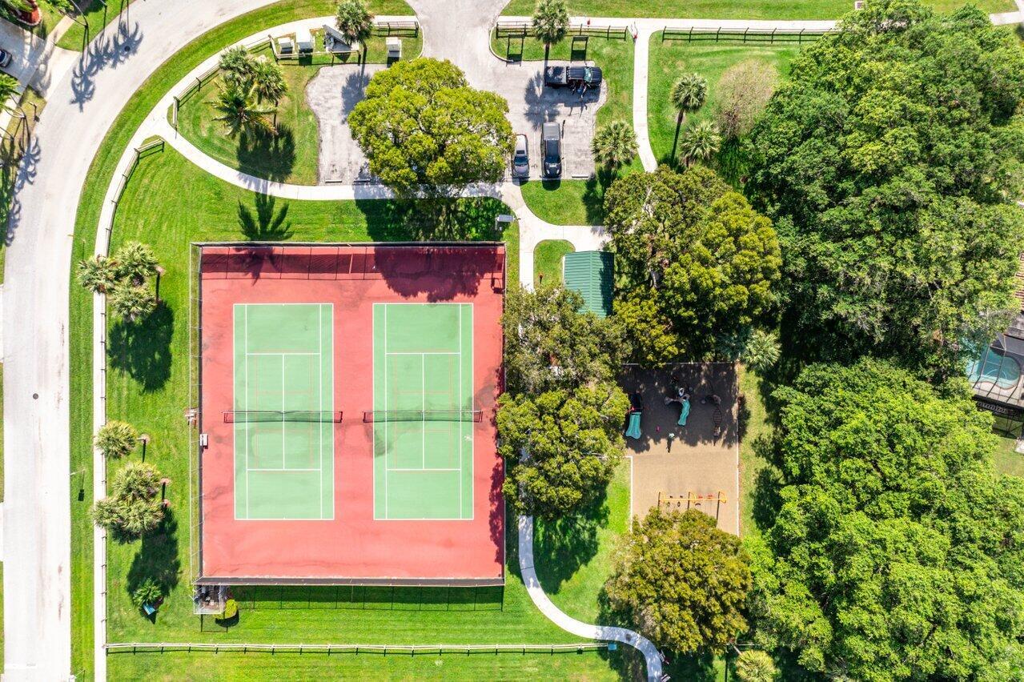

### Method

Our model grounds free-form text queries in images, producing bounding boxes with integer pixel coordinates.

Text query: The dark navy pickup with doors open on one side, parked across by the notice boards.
[546,62,602,93]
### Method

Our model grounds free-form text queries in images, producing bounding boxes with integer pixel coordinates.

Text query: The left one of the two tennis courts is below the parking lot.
[201,246,353,578]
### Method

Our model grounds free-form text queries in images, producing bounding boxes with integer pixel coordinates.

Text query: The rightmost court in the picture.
[353,246,505,578]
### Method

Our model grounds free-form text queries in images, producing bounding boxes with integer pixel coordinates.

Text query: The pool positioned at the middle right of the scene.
[954,324,1024,407]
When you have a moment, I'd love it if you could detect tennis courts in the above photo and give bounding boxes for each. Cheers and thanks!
[353,246,505,578]
[201,246,353,578]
